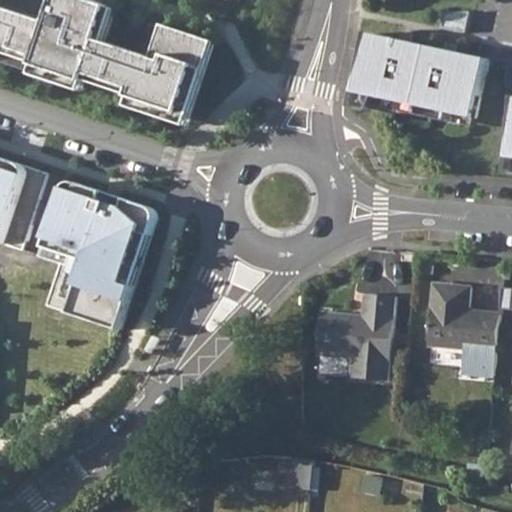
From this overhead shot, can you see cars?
Yes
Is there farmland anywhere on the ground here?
No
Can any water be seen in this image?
No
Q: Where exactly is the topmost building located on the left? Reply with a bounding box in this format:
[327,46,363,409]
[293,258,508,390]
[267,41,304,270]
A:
[0,0,222,126]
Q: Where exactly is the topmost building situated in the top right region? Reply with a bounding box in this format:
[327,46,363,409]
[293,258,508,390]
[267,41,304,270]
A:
[442,10,471,34]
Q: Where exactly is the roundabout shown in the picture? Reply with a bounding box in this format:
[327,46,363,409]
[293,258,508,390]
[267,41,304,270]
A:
[202,124,358,283]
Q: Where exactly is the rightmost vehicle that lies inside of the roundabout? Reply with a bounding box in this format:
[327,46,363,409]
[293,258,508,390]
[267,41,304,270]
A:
[309,216,328,238]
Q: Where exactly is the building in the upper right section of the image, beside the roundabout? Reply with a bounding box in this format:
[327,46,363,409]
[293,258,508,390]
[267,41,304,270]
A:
[347,33,484,128]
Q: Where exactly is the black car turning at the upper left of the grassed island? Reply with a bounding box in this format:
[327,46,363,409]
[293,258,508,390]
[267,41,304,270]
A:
[240,164,257,185]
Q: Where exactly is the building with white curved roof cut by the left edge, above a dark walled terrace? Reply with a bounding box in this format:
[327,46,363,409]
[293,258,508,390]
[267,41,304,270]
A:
[0,159,52,250]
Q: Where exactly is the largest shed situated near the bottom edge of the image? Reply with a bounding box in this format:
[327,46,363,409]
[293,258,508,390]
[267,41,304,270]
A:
[299,464,322,494]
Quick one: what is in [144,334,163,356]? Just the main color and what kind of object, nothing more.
white vehicle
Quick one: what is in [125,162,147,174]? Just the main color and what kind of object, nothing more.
white vehicle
